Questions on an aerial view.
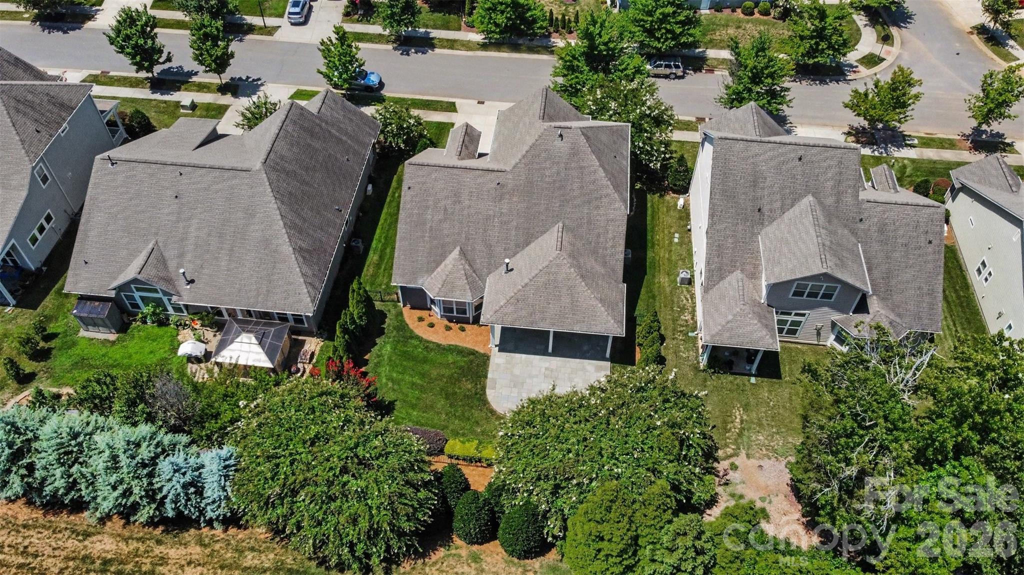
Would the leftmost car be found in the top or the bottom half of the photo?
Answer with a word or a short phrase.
top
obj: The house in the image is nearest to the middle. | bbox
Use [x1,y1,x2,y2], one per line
[392,85,632,358]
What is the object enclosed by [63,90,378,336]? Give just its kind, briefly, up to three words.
house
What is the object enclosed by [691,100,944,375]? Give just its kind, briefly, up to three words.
house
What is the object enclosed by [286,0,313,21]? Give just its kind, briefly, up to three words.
car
